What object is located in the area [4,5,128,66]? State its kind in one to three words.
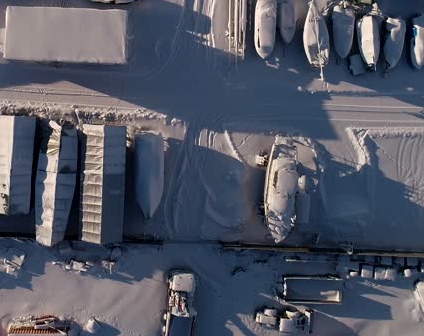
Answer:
shed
